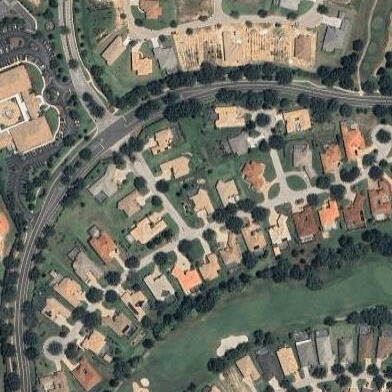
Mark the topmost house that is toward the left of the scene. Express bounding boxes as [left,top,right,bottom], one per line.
[139,0,161,19]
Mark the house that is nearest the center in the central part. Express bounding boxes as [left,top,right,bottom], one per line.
[192,184,213,217]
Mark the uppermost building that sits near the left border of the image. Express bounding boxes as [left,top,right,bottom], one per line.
[0,64,56,161]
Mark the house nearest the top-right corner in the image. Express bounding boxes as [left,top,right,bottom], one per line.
[322,23,345,52]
